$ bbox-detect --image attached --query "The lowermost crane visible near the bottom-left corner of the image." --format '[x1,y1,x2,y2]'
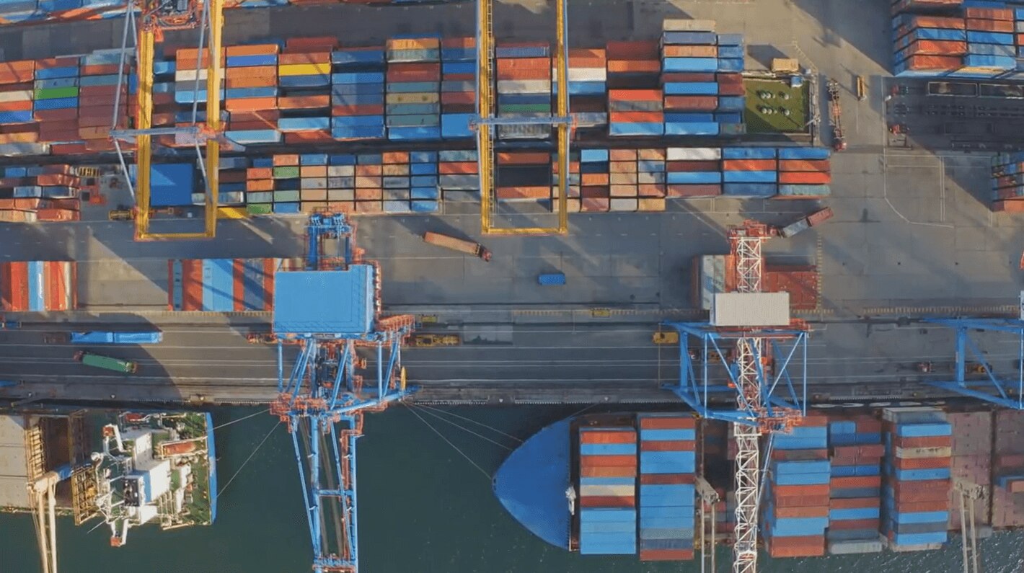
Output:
[26,463,97,573]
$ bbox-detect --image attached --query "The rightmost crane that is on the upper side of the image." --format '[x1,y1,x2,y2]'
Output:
[470,0,581,238]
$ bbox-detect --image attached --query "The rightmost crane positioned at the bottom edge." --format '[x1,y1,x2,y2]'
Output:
[954,472,1022,573]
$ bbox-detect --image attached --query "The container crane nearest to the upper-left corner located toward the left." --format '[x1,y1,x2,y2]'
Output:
[104,0,265,243]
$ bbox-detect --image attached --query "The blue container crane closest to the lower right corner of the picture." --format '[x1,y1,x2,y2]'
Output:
[910,292,1024,421]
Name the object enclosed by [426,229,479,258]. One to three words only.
shipping container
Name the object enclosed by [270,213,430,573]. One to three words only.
container crane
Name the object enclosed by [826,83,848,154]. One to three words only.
truck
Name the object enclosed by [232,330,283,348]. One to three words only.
work vehicle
